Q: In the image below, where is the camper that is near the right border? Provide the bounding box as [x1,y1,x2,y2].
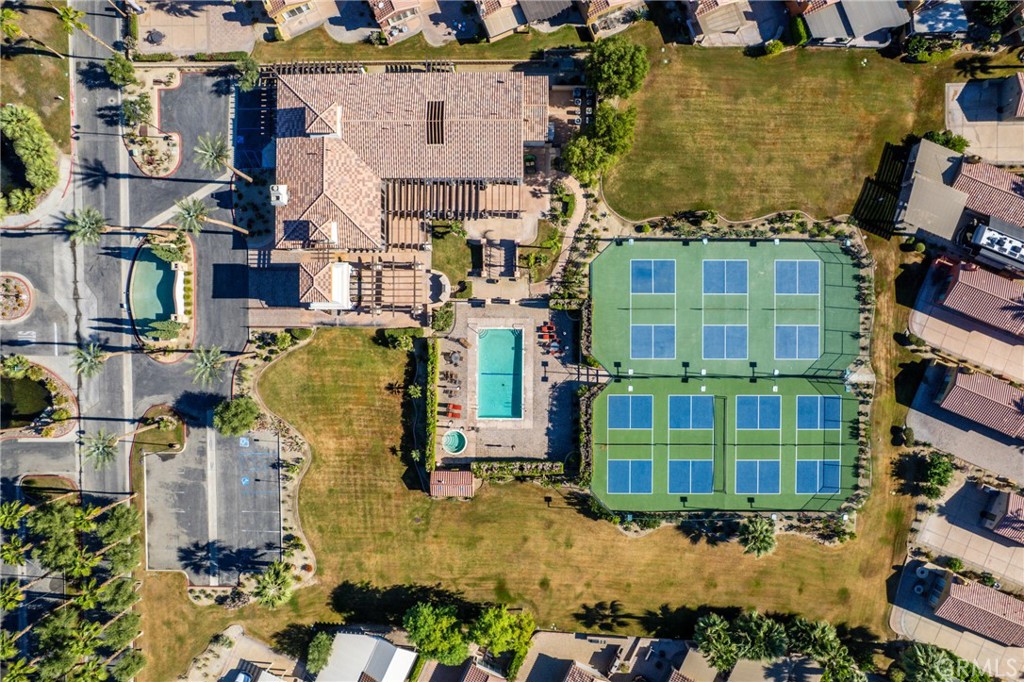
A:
[960,222,1024,273]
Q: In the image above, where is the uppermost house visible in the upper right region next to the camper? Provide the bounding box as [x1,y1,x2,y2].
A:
[946,136,1024,222]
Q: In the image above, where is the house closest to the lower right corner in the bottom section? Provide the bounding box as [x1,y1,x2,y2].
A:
[926,563,1024,649]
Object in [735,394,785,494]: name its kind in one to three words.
sports court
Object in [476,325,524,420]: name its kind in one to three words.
swimming pool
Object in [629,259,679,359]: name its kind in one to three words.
sports court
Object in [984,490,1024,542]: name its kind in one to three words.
house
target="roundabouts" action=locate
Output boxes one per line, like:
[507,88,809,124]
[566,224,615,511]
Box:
[0,271,35,325]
